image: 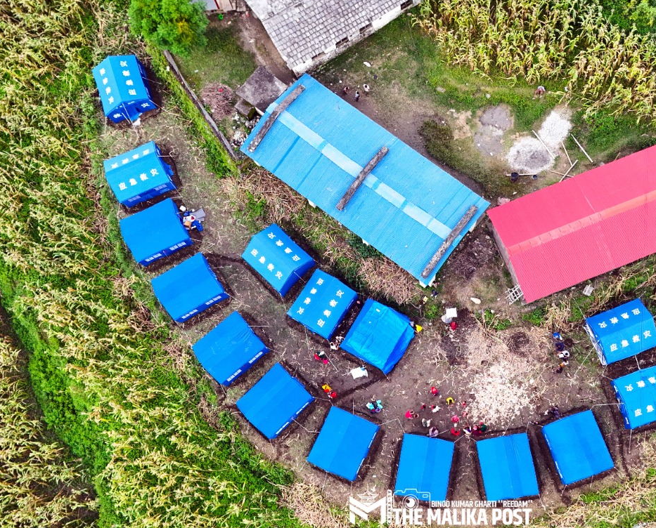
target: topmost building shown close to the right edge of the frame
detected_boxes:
[487,146,656,303]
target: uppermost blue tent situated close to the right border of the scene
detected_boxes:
[574,293,656,369]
